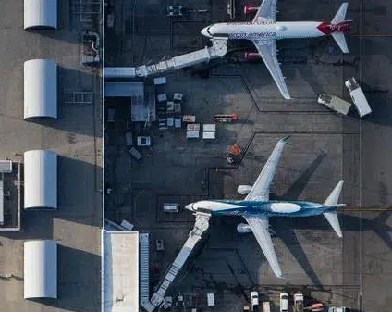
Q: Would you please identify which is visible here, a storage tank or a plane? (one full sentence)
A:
I can see a plane in this picture.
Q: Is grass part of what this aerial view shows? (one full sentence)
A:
No, no grass is visible.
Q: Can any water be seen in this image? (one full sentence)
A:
No, no water is visible.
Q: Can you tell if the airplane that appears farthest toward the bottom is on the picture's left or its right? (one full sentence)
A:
It is on the right.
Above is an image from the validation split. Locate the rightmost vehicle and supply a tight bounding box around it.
[345,79,374,116]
